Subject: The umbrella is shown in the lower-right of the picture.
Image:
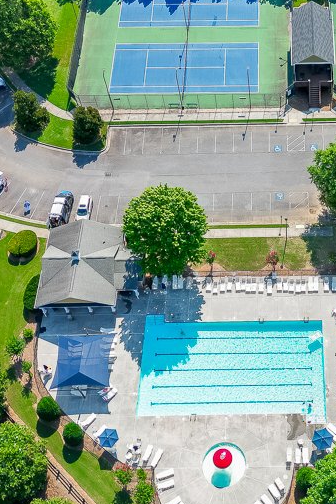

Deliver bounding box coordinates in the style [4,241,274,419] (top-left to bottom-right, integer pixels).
[312,430,332,451]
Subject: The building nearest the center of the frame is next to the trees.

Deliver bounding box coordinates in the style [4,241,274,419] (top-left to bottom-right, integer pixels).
[35,217,147,315]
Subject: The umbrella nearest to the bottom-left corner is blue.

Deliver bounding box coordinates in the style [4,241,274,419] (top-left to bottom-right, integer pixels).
[98,429,120,450]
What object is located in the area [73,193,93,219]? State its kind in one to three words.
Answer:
car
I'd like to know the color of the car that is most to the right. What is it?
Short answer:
white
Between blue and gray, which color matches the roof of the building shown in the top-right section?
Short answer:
gray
